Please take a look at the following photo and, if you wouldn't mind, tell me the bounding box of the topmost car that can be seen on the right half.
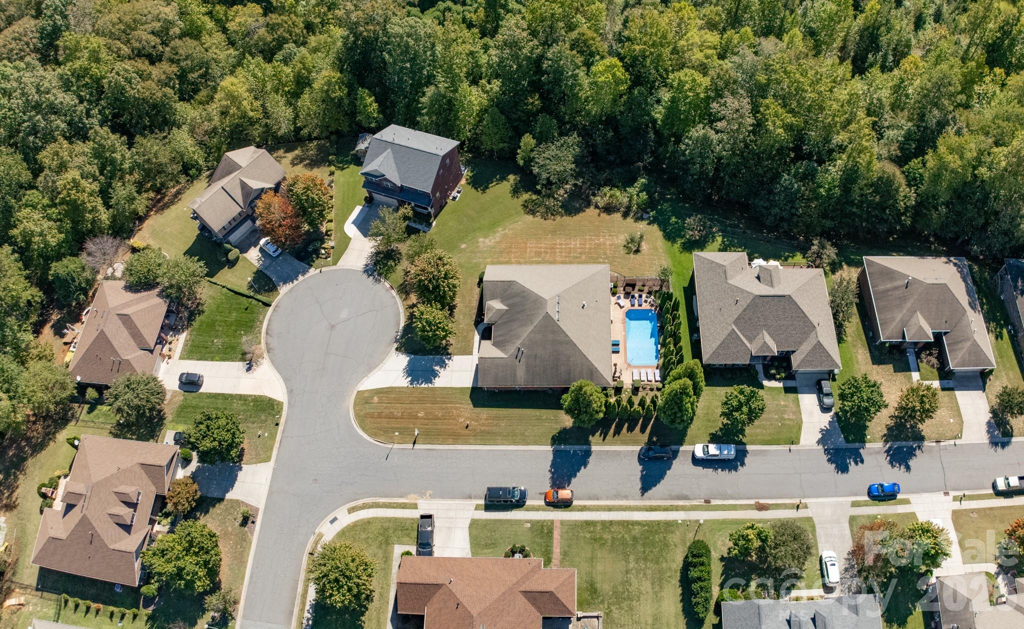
[816,379,835,408]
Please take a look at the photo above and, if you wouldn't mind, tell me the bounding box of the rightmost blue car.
[866,480,902,497]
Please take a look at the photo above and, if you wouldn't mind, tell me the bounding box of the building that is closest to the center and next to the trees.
[477,264,613,391]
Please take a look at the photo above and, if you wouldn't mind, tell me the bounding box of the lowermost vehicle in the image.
[820,550,841,586]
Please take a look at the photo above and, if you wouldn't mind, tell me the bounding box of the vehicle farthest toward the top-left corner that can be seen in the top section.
[258,237,283,258]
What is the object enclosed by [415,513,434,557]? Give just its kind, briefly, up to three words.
vehicle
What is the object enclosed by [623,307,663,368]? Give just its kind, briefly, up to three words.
swimming pool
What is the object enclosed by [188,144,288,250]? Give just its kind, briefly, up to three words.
house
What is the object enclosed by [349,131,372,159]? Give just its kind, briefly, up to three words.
gazebo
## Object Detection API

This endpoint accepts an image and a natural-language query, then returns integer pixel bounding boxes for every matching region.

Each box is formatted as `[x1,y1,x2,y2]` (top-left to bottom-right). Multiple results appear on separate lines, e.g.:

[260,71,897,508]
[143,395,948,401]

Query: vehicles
[693,441,737,459]
[639,443,672,460]
[175,370,207,387]
[816,379,835,408]
[992,473,1024,491]
[169,429,192,445]
[866,480,902,497]
[544,486,574,504]
[485,484,527,502]
[258,237,283,258]
[415,513,434,557]
[820,550,841,586]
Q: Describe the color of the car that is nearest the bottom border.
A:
white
